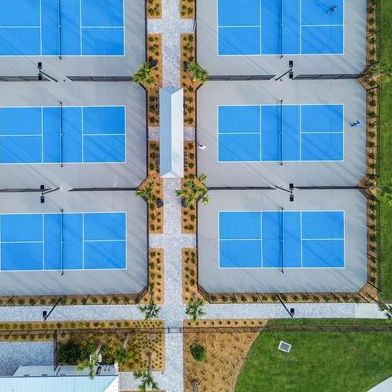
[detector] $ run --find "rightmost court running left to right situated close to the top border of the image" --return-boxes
[196,0,369,81]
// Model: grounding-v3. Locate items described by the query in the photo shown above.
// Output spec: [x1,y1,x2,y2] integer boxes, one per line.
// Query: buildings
[0,365,121,392]
[159,88,183,178]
